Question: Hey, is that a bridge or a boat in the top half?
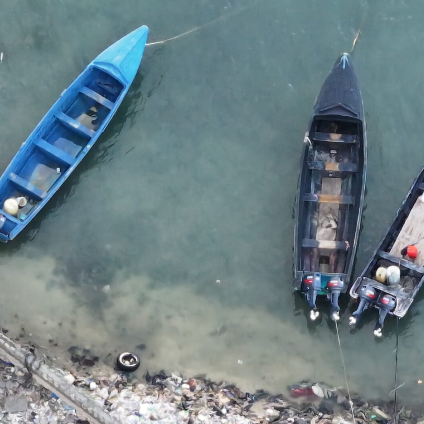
boat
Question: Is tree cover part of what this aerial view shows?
No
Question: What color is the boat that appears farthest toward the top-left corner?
blue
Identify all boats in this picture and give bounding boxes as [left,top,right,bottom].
[347,167,424,346]
[294,52,365,328]
[0,23,152,252]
